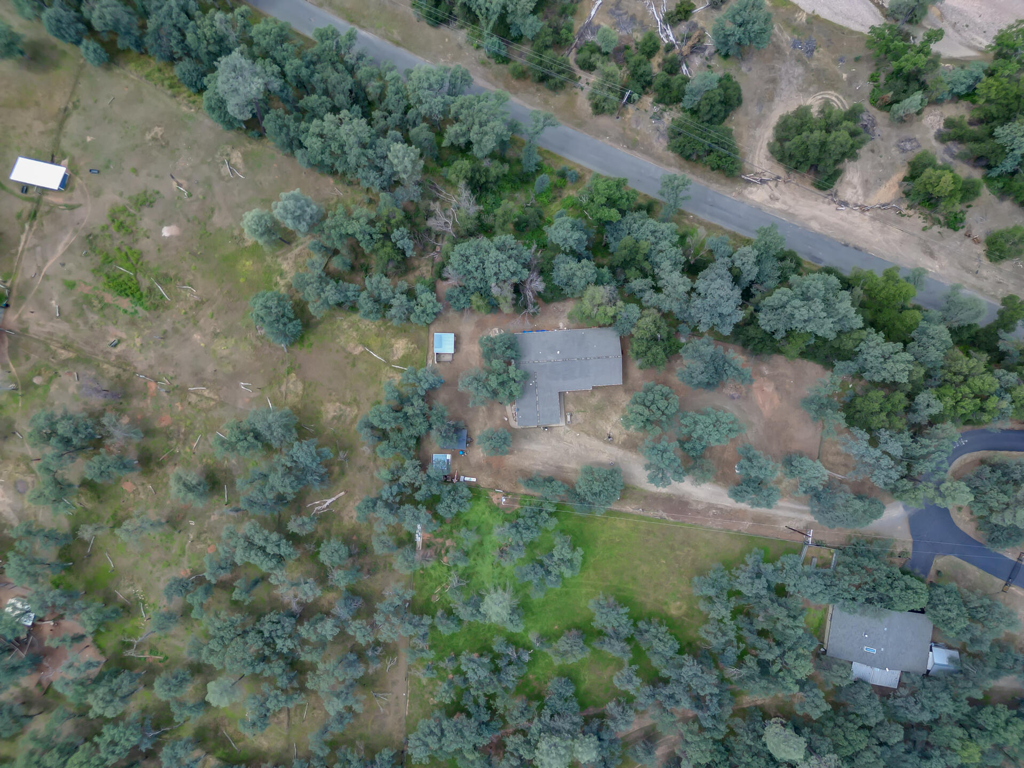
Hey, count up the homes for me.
two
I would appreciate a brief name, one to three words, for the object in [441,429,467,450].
shed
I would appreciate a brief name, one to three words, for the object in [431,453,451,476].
shed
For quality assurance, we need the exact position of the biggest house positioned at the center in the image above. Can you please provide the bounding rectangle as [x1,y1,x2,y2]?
[513,326,623,427]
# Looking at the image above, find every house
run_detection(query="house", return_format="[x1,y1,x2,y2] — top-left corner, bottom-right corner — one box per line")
[822,602,934,674]
[513,326,623,427]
